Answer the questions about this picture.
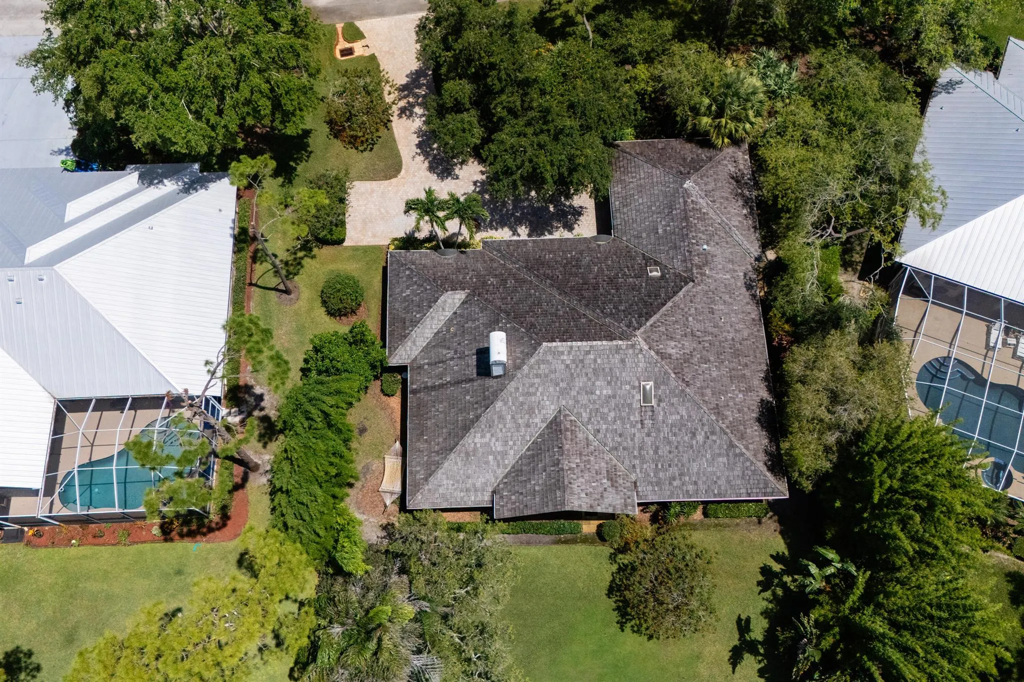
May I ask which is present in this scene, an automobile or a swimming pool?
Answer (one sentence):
The image shows a swimming pool.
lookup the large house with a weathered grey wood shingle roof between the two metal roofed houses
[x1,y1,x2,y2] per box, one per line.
[383,137,789,522]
